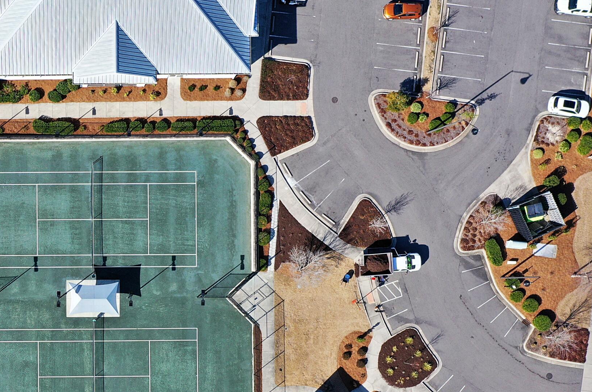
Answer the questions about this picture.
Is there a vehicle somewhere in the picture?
Yes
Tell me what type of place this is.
sports ground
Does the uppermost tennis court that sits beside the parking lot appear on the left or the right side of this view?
left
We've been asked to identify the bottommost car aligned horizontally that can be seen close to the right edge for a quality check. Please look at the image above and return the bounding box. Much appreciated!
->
[545,99,589,118]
